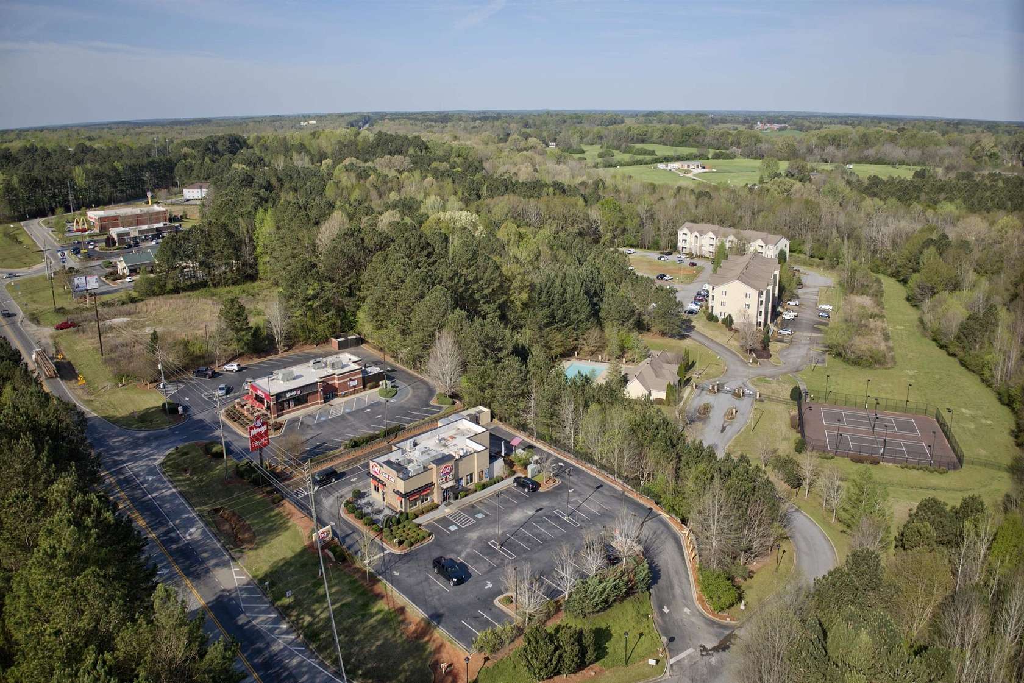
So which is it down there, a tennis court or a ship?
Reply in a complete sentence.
The one in the frame is a tennis court.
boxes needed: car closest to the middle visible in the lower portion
[514,475,538,491]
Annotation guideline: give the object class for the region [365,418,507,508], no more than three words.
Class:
building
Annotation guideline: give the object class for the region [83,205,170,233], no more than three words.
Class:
building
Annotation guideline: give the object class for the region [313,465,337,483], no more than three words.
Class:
car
